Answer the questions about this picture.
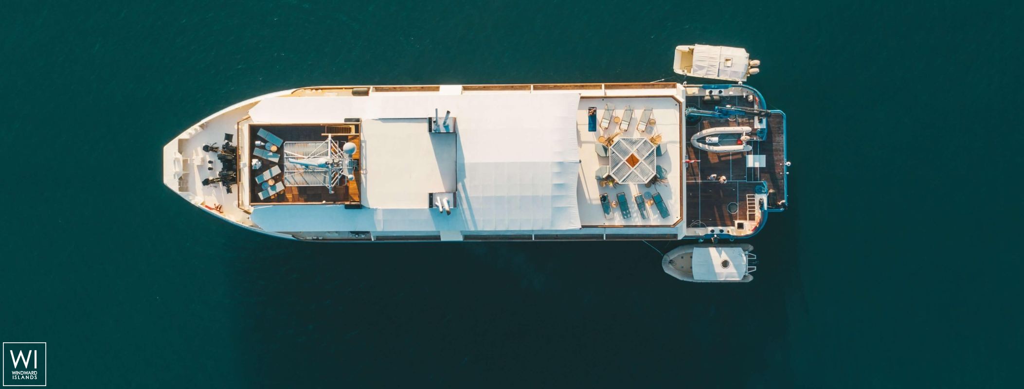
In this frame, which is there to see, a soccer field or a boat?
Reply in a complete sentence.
I can see a boat in this picture.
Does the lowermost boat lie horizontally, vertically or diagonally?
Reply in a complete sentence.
From this overhead view, the lowermost boat appears to run horizontally.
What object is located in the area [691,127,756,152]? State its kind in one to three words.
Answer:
boat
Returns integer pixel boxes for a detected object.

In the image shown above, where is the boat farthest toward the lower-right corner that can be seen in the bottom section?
[662,243,757,283]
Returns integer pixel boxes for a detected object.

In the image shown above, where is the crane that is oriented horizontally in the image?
[687,104,771,126]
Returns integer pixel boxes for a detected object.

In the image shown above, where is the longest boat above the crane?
[674,44,760,81]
